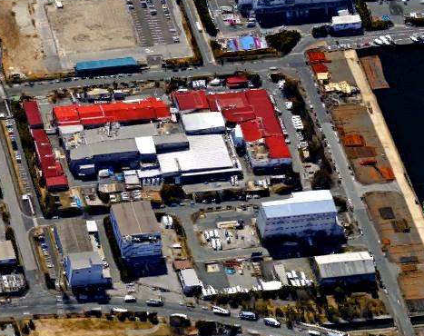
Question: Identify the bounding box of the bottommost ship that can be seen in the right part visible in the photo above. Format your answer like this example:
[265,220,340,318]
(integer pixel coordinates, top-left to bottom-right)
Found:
[360,56,390,89]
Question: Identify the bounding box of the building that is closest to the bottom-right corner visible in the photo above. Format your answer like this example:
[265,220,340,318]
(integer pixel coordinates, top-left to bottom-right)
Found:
[314,251,376,286]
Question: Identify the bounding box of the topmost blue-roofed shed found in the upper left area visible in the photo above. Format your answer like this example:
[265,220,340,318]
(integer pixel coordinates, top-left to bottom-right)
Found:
[74,56,140,74]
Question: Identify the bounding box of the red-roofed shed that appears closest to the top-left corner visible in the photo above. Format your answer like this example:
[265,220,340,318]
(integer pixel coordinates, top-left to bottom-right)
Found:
[22,100,44,131]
